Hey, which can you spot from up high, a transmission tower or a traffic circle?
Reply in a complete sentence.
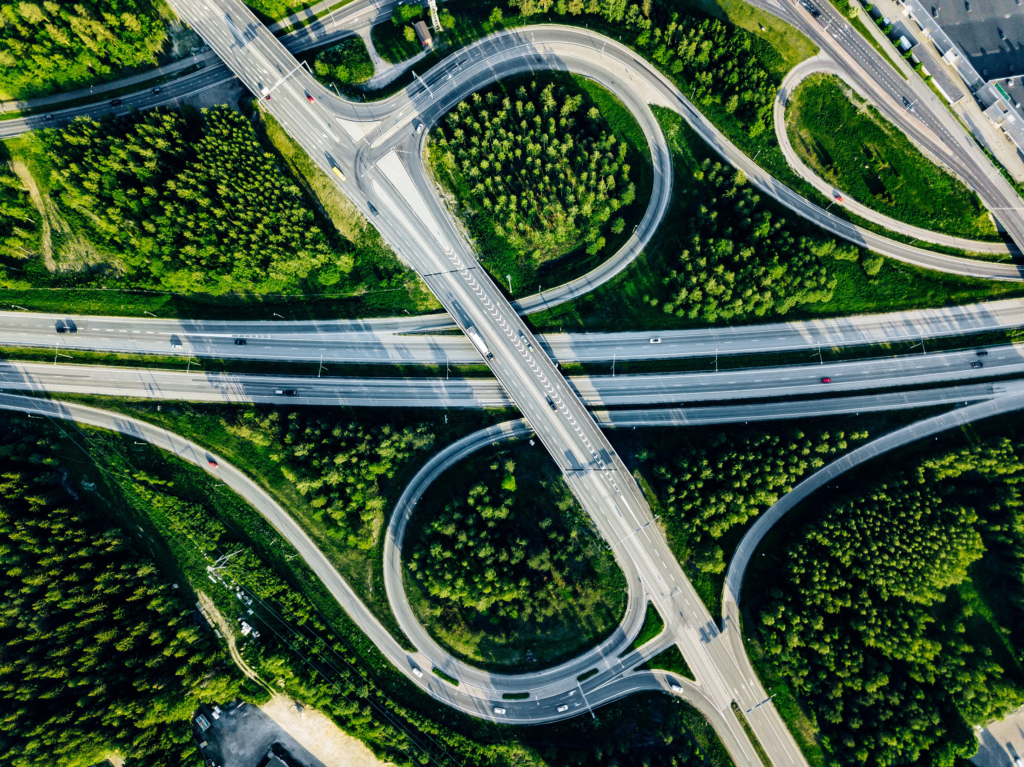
The image shows a transmission tower.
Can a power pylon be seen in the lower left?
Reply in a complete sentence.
Yes, the scene does show a power pylon in the lower left.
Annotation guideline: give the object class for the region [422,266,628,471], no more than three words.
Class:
bridge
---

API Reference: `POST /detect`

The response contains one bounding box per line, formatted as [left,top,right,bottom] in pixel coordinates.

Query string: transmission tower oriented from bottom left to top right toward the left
[198,549,243,577]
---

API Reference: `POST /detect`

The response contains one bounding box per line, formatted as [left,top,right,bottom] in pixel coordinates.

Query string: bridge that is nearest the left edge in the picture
[201,15,304,89]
